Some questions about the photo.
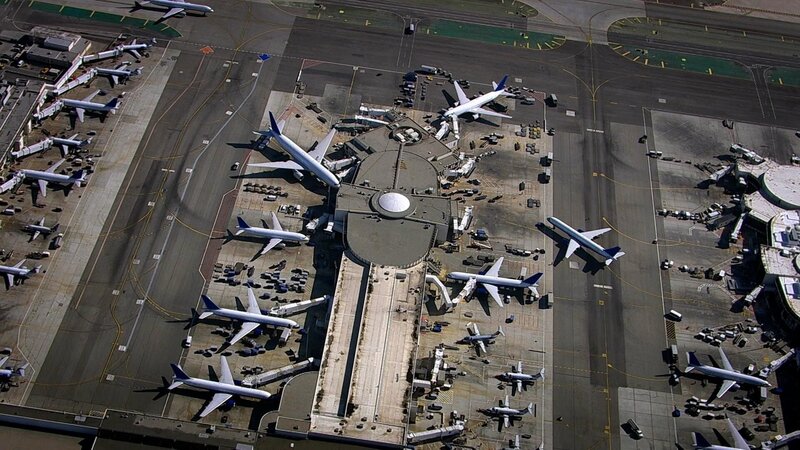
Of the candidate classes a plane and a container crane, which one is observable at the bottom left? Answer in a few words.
plane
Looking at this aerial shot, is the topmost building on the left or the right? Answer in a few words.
left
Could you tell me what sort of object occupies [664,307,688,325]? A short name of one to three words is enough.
vehicle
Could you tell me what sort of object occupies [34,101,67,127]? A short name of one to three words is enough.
jet bridge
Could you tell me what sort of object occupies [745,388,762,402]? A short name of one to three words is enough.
work vehicle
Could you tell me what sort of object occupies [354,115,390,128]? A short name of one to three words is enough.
jet bridge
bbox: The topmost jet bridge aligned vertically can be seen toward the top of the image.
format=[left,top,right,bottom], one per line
[448,113,462,141]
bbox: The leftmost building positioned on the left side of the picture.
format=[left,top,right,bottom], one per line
[0,20,94,175]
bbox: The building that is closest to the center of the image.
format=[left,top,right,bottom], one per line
[259,116,461,450]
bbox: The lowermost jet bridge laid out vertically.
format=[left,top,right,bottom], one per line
[428,351,443,388]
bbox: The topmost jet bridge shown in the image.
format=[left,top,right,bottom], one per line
[79,48,121,69]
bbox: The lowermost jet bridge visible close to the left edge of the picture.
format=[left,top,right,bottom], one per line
[0,171,25,194]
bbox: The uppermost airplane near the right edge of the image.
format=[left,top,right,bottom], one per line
[683,345,771,398]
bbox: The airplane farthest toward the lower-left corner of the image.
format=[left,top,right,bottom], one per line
[0,354,27,378]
